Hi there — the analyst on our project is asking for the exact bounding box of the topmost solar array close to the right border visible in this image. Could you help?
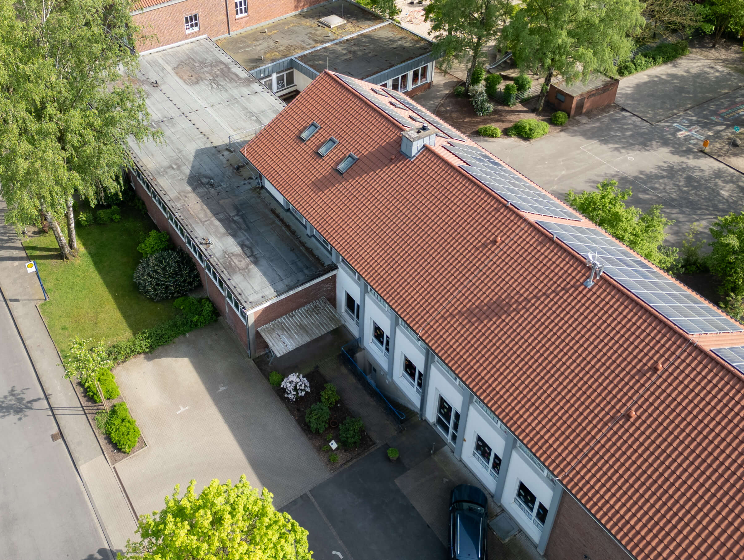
[541,221,741,333]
